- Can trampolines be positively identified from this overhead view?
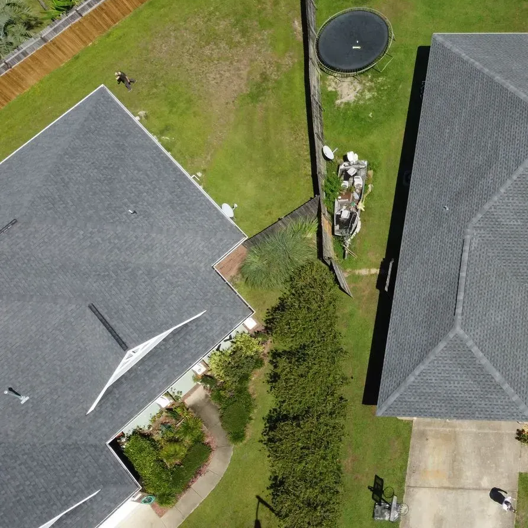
Yes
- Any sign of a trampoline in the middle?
No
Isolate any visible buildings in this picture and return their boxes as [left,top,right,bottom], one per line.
[0,85,270,528]
[376,32,528,424]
